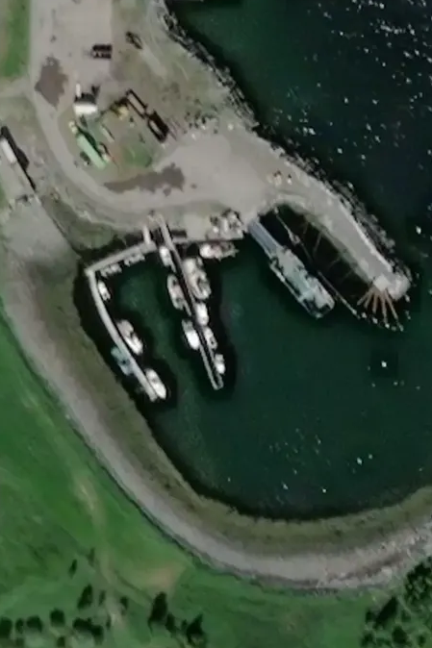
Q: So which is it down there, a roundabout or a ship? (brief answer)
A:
ship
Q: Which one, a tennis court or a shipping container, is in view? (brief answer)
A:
shipping container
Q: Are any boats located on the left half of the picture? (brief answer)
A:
Yes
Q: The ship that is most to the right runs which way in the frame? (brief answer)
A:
diagonally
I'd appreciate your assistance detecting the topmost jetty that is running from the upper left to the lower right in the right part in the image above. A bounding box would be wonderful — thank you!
[156,0,418,301]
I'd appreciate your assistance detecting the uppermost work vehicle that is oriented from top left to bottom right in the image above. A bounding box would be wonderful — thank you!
[112,100,130,118]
